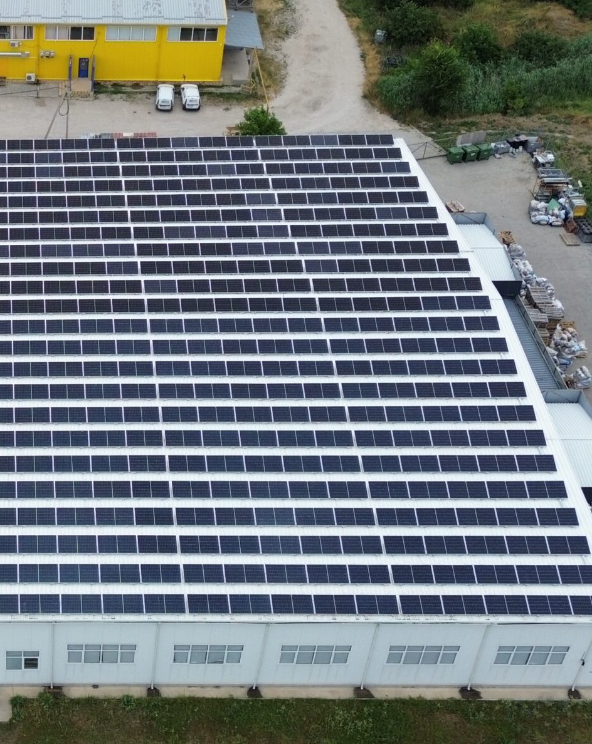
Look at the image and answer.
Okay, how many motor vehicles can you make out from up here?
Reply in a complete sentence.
The number of motor vehicles here is 2.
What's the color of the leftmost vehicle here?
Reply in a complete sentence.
From above, the leftmost vehicle appears white.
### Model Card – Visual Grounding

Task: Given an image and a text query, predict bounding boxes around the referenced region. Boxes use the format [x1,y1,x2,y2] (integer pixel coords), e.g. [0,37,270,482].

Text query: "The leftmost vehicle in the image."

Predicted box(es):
[154,81,177,108]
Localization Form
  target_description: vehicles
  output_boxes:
[154,81,177,108]
[178,81,202,108]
